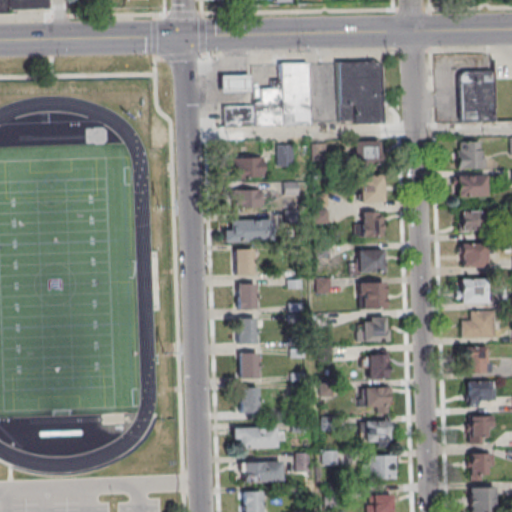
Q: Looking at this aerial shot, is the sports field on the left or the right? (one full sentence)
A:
The sports field sits on the left side.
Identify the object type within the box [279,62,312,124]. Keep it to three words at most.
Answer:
building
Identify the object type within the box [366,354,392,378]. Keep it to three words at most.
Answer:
house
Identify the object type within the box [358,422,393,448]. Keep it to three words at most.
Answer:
house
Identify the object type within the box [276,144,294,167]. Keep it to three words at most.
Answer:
building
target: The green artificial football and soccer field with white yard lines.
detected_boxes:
[0,144,140,418]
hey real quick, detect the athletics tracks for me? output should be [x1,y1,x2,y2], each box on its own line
[0,96,160,477]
